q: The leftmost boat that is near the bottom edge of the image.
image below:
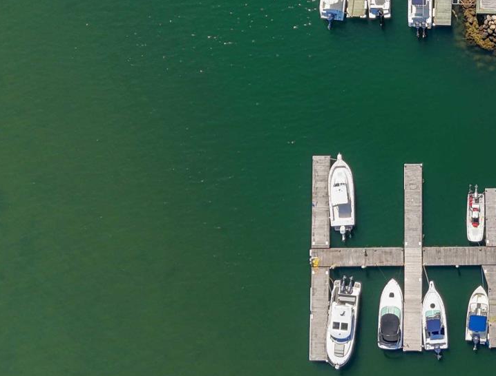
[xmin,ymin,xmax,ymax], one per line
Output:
[327,268,362,372]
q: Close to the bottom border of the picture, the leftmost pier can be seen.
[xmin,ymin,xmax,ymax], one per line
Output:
[308,267,330,362]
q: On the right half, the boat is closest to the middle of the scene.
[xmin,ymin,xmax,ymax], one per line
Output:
[328,152,357,240]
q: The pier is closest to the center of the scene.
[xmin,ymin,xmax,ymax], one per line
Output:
[311,155,331,248]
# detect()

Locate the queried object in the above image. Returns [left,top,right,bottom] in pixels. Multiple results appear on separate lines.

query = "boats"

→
[466,280,491,354]
[377,267,405,350]
[465,181,487,246]
[408,0,433,39]
[422,266,447,363]
[327,268,362,372]
[367,0,390,29]
[319,0,349,32]
[328,152,357,240]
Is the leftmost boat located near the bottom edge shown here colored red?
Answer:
No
